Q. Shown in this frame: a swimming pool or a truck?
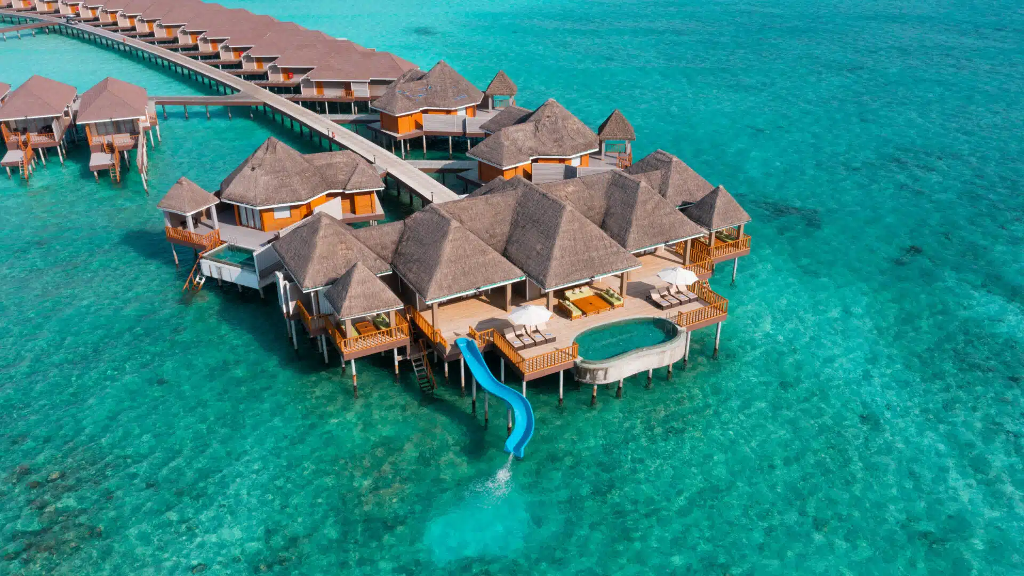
swimming pool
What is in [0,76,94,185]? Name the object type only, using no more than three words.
house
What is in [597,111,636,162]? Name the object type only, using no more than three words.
gazebo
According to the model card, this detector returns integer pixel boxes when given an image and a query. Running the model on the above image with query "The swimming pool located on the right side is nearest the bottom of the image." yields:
[570,306,686,419]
